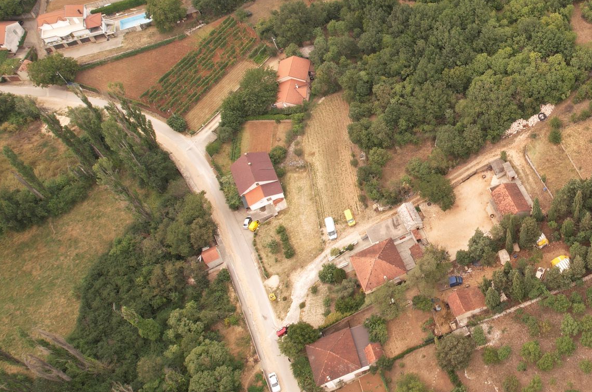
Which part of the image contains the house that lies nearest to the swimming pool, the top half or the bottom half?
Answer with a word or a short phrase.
top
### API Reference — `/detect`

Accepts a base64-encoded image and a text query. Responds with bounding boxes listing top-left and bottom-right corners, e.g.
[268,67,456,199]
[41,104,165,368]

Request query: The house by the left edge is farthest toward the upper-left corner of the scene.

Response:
[0,23,30,60]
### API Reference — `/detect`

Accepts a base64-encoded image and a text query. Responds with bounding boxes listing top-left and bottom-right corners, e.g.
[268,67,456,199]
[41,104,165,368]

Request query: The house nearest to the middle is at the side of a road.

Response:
[231,152,288,225]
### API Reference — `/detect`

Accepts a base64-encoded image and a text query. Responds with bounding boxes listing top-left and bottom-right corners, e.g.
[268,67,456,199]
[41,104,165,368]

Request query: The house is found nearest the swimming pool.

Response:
[37,5,112,53]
